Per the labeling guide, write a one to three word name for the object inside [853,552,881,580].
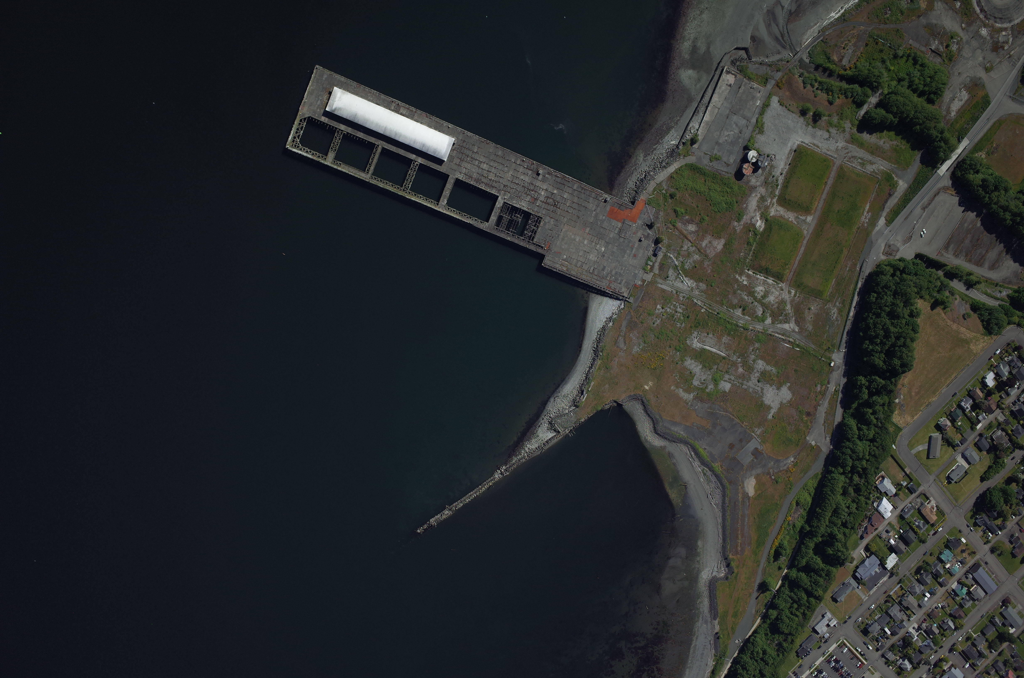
building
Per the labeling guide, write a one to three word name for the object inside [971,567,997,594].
building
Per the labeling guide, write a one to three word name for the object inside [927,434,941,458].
house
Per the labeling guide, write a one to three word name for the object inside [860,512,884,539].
house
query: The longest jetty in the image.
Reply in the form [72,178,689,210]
[287,65,657,300]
